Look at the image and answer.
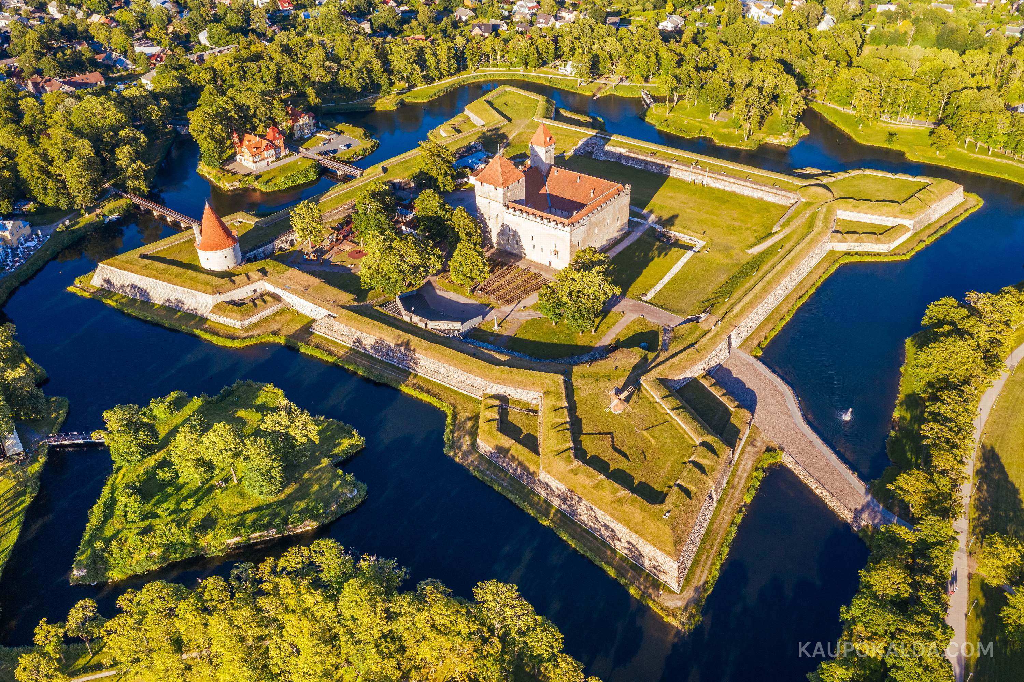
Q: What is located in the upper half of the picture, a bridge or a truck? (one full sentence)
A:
What appears in the upper half of the picture is a bridge.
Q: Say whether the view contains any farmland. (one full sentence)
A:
No, there's no farmland in this view.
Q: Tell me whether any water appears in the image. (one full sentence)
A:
Yes, there's water in this view.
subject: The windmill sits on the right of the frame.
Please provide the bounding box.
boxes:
[607,382,638,415]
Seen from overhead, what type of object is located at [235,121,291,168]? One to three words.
house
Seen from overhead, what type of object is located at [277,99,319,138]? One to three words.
house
